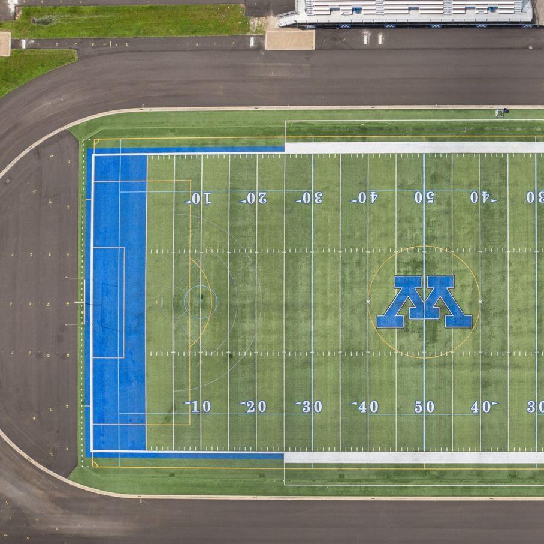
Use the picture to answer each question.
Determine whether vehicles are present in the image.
No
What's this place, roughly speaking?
sports ground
